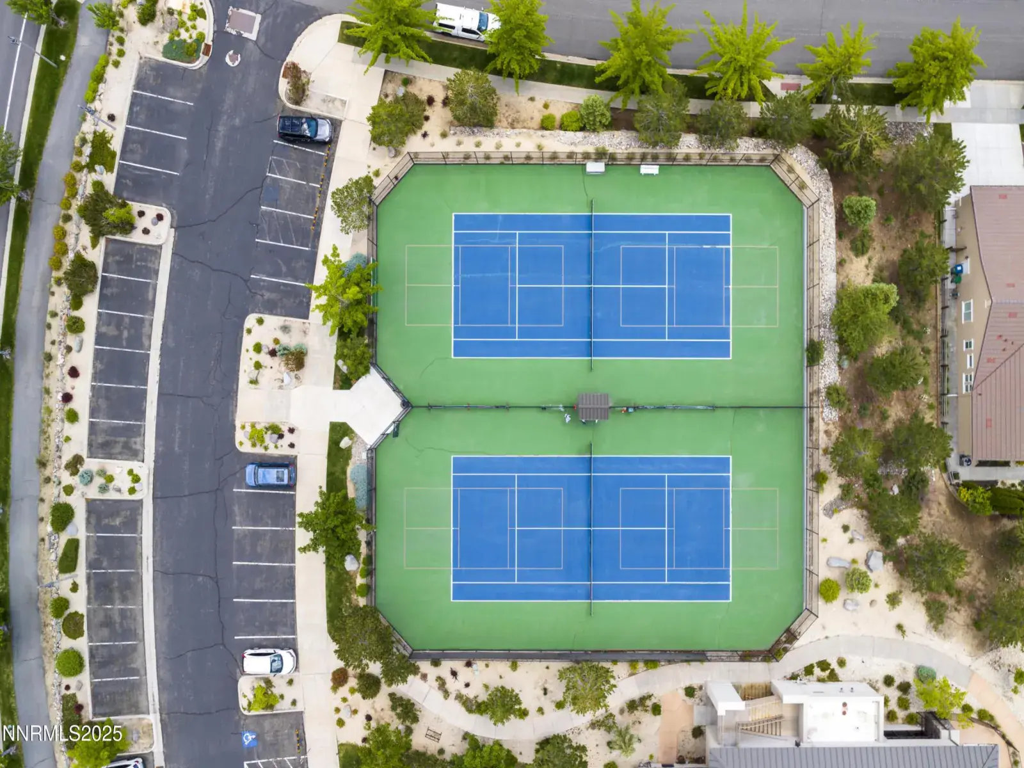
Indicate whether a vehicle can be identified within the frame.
Yes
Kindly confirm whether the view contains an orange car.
No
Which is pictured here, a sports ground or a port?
sports ground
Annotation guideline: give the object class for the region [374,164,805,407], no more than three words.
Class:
tennis court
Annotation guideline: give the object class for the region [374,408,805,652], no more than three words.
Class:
tennis court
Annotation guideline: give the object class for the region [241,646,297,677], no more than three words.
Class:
car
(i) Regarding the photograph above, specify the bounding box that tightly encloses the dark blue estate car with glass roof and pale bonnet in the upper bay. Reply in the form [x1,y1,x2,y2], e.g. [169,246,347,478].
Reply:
[278,112,335,146]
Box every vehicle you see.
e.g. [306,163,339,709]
[93,750,150,768]
[246,460,299,489]
[241,646,297,677]
[435,1,500,47]
[278,112,335,146]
